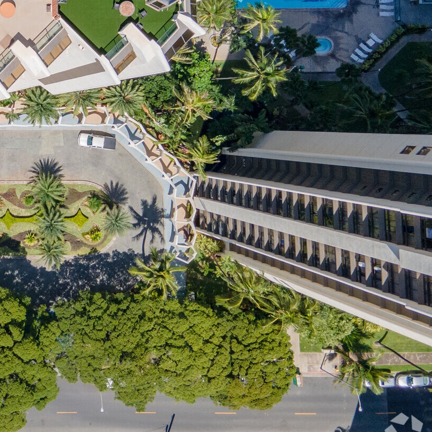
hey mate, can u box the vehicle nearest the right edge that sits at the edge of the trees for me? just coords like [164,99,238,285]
[396,374,430,390]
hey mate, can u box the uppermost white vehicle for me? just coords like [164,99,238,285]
[77,133,117,150]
